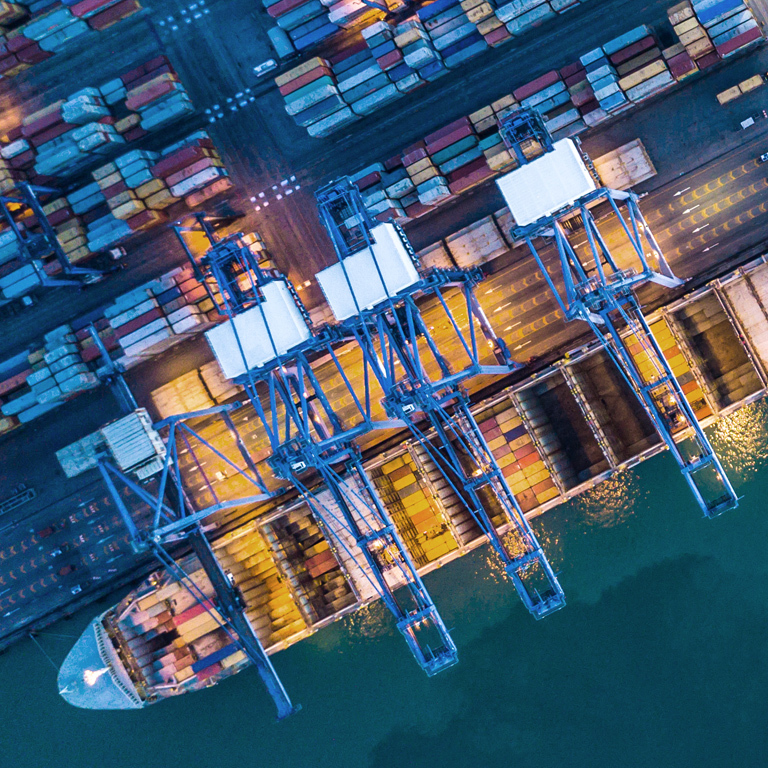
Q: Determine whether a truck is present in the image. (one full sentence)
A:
Yes, there is a truck in the image.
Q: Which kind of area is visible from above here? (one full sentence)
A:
This image shows a port.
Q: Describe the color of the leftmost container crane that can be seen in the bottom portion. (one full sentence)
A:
The leftmost container crane that can be seen in the bottom portion looks blue in the image.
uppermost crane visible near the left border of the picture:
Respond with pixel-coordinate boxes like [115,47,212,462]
[0,184,111,290]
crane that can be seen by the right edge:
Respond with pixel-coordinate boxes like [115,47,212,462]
[489,99,746,530]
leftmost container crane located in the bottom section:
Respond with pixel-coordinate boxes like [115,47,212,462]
[82,323,308,722]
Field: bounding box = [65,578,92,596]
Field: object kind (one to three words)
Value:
vehicle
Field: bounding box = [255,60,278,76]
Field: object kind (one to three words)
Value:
vehicle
